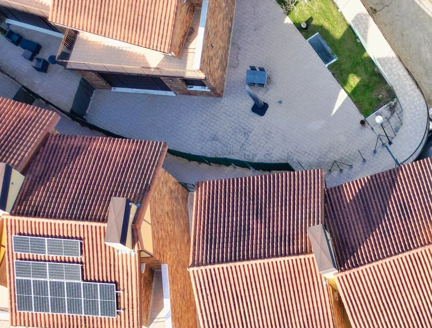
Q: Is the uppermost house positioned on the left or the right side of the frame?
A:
left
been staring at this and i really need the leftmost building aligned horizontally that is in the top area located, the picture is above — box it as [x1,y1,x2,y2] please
[0,0,239,103]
